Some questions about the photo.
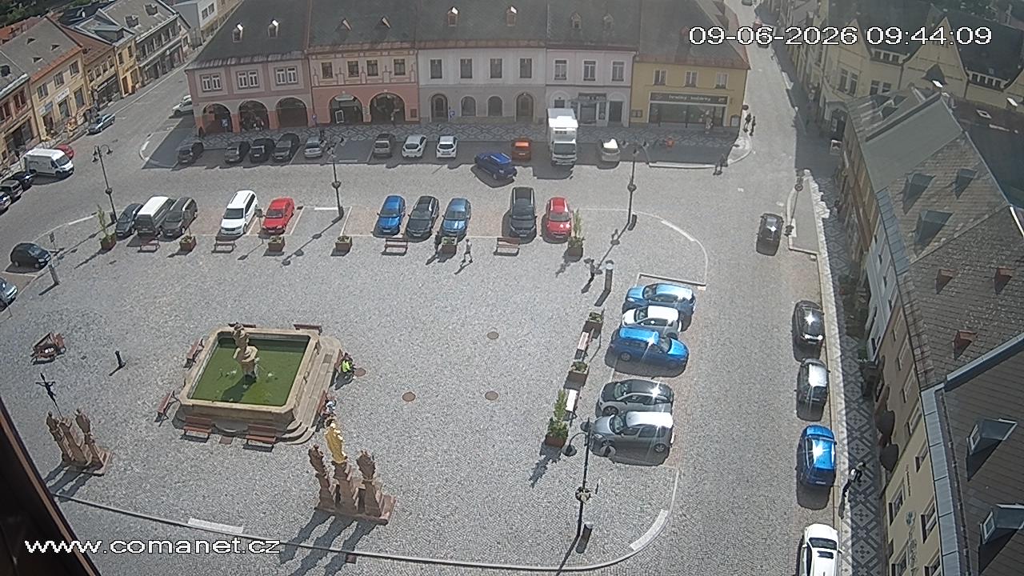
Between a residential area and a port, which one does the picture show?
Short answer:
residential area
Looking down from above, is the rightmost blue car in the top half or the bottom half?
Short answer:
bottom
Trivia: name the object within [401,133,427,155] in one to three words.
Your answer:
car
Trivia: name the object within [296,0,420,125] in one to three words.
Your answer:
house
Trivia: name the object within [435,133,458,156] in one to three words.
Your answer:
car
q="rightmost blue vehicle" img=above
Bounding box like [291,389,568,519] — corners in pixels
[798,424,845,485]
